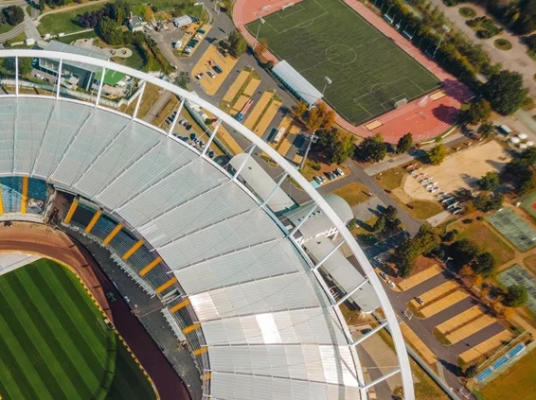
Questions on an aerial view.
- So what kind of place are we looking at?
sports ground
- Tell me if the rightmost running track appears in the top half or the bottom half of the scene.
top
